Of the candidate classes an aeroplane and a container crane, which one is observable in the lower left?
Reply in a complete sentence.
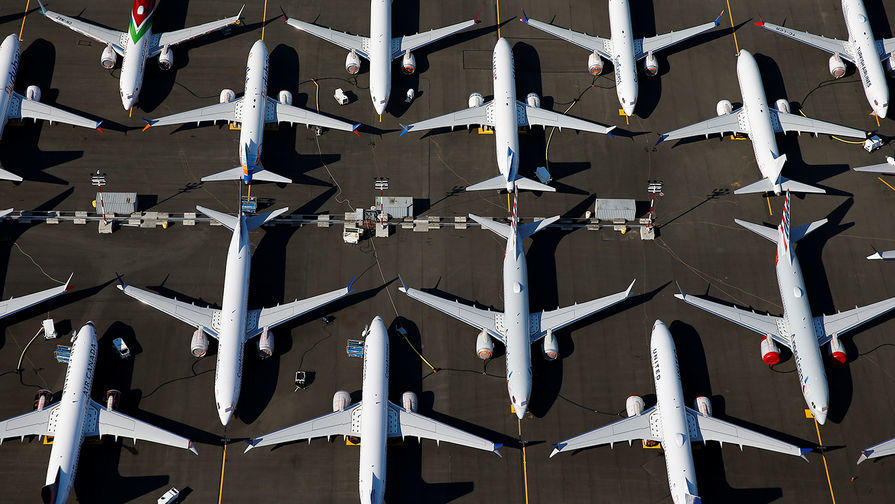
Visible in the lower left is an aeroplane.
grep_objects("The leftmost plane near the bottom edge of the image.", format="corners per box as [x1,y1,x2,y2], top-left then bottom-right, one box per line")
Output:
[0,322,197,504]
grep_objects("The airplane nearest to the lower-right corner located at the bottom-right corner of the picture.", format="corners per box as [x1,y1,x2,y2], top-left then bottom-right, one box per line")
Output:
[857,438,895,466]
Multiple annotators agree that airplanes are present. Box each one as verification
[243,316,505,504]
[0,273,73,322]
[677,190,895,424]
[0,38,101,147]
[142,40,362,184]
[857,438,895,466]
[399,186,636,420]
[399,39,617,194]
[551,321,811,504]
[116,178,356,426]
[521,0,723,115]
[758,0,895,118]
[279,0,482,115]
[657,51,875,196]
[0,322,197,504]
[39,0,244,110]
